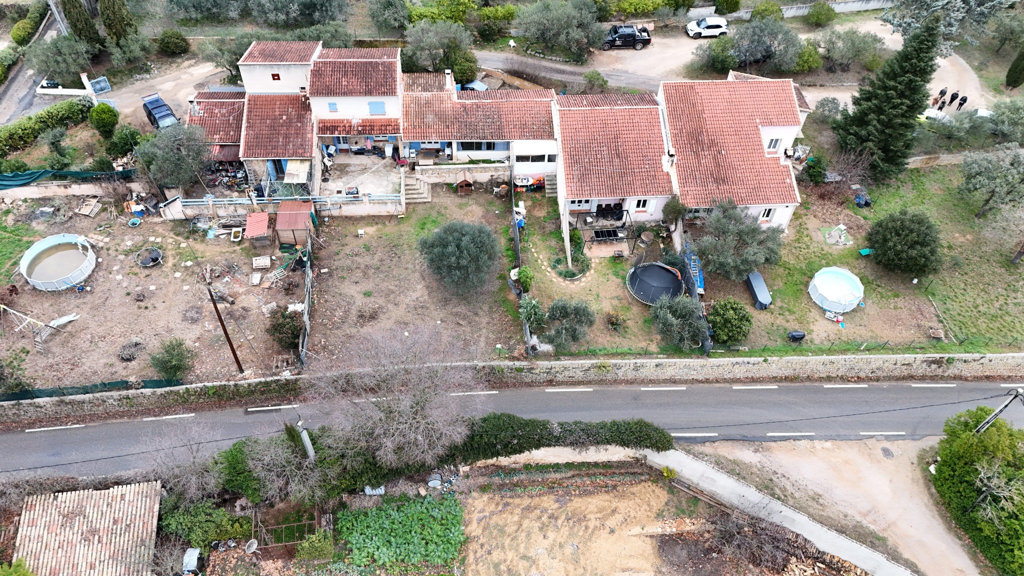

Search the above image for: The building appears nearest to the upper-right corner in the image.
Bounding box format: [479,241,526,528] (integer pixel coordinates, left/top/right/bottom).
[650,69,812,237]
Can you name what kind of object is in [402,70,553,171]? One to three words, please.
house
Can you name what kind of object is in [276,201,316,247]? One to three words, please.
shed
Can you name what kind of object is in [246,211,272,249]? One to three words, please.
shed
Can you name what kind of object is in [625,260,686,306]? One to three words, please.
trampoline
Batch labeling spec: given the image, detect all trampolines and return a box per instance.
[625,260,686,306]
[132,247,162,268]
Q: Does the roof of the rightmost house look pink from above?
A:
Yes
